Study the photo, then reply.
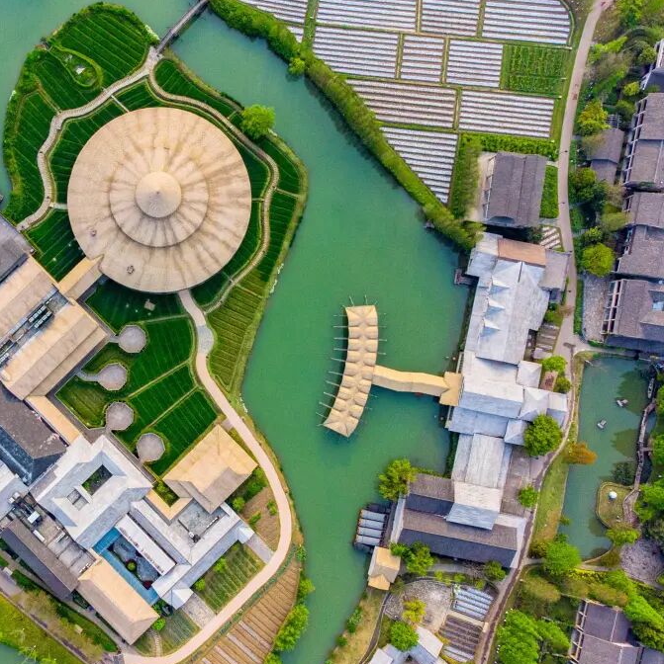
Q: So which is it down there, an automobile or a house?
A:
house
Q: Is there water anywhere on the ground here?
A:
Yes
